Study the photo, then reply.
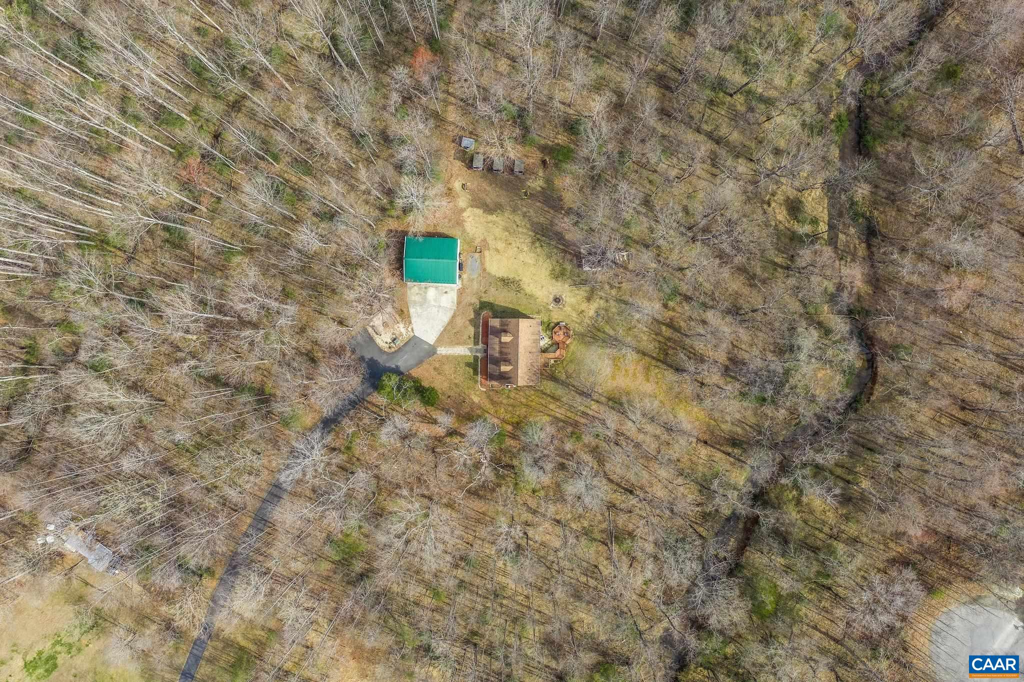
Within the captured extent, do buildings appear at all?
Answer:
Yes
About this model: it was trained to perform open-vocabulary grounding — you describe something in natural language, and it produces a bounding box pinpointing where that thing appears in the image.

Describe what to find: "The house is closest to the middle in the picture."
[484,317,542,391]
